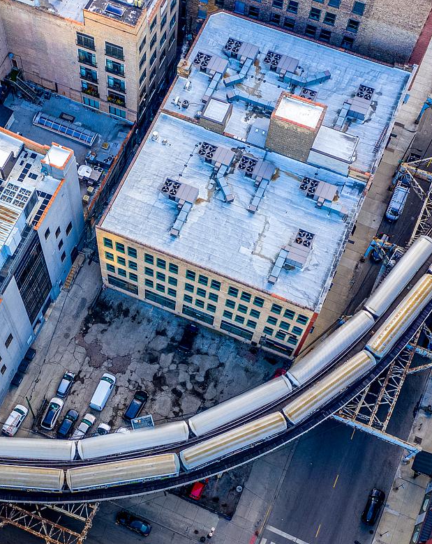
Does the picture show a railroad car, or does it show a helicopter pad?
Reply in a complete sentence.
Of the two, only a railroad car appears.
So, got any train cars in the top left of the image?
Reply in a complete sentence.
No, there's no train car to be seen in the top left of the image.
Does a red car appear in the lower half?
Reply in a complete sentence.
Yes, there is a red car in the lower half.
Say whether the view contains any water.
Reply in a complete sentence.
No, no water is visible.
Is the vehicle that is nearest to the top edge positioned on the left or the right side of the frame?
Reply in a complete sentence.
It is on the right.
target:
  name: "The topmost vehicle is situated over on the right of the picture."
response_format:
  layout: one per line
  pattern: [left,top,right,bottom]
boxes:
[385,187,407,220]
